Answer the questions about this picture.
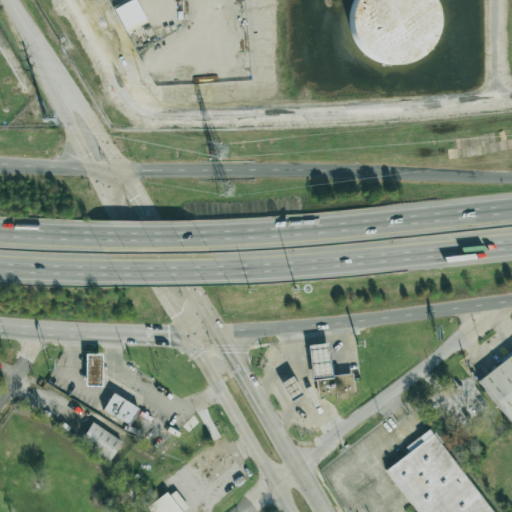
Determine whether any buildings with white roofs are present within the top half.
Yes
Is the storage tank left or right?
right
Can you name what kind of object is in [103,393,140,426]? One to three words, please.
building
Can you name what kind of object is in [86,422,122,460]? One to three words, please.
building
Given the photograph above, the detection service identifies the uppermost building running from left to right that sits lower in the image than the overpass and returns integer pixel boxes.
[316,374,356,396]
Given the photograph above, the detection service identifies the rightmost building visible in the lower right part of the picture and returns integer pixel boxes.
[477,353,512,422]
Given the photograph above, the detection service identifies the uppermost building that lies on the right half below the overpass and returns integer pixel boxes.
[309,343,334,380]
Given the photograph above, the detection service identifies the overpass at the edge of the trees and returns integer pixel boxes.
[0,192,512,286]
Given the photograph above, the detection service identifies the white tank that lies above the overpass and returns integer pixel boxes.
[349,0,443,66]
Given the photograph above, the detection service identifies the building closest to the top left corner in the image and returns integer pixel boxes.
[116,0,147,32]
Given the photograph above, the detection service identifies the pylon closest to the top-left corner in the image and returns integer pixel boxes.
[210,142,228,166]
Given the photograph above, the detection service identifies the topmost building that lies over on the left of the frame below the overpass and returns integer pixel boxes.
[86,354,104,386]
